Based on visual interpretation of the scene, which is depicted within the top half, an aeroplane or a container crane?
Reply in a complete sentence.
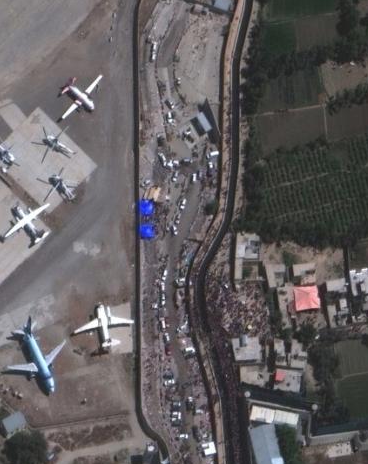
It is an aeroplane that can be seen within the top half.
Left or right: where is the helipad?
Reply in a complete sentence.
The helipad appears in the left half of the scene.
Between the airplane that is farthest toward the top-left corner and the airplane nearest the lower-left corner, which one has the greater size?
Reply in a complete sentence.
The airplane nearest the lower-left corner covers a greater area than the airplane that is farthest toward the top-left corner.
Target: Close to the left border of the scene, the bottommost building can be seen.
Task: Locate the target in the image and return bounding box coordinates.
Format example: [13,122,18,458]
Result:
[1,411,27,436]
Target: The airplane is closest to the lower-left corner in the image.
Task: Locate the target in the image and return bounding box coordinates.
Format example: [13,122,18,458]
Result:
[4,322,70,393]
